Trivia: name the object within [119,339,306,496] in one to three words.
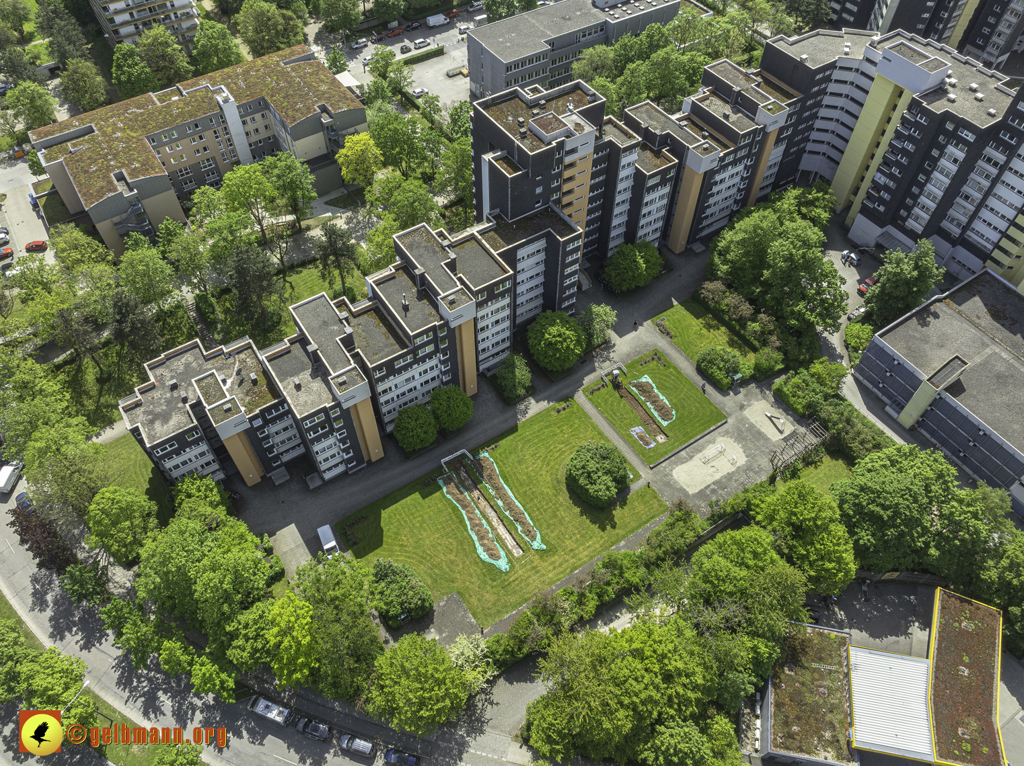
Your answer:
building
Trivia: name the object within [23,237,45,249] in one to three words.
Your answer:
vehicle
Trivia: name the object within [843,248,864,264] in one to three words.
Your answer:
car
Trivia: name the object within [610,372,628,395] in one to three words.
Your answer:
work vehicle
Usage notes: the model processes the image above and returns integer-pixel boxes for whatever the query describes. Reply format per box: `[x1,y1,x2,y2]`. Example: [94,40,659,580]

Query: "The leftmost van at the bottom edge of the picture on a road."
[246,699,291,734]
